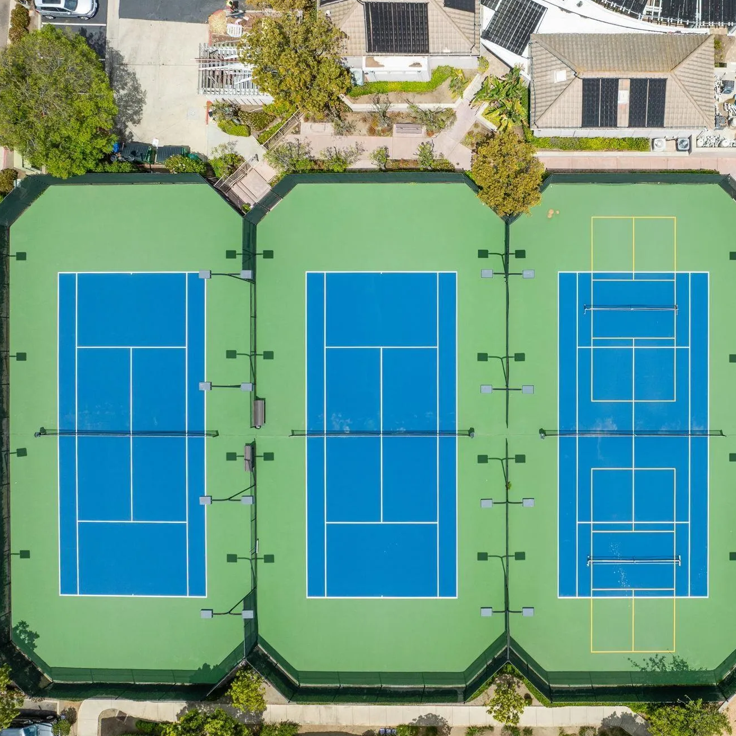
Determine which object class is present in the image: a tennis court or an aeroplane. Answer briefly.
tennis court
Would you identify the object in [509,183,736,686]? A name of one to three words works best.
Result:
tennis court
